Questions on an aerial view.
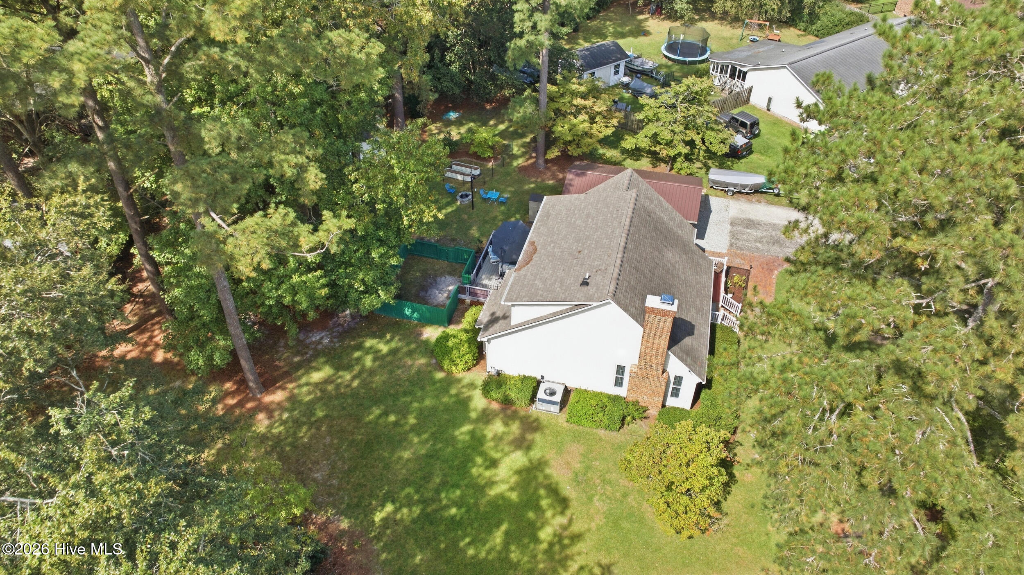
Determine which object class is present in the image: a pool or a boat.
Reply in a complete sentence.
Looking from above, you can make out a boat.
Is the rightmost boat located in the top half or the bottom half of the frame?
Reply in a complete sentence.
Seen from above, the rightmost boat lies in the top half of the view.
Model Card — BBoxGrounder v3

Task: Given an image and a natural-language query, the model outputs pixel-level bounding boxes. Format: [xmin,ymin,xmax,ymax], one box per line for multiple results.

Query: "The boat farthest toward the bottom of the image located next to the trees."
[708,169,782,189]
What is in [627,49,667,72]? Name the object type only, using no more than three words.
boat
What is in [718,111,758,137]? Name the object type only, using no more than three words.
car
